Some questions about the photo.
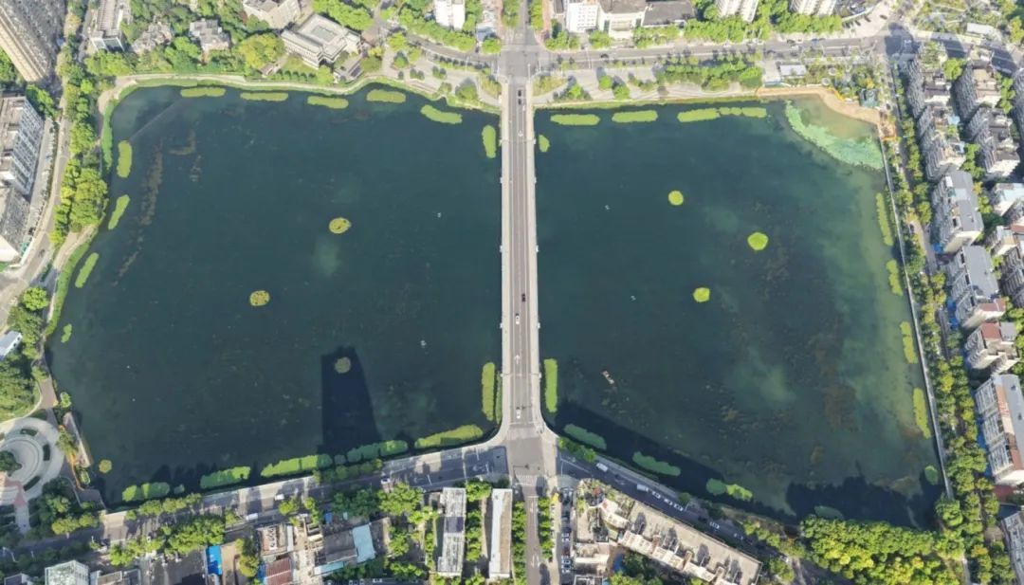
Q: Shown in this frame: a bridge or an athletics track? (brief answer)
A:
bridge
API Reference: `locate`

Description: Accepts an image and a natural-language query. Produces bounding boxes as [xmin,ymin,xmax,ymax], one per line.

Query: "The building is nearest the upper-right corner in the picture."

[963,23,994,39]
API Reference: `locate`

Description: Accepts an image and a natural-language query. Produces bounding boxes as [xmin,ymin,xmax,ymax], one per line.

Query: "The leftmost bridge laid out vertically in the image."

[500,84,542,412]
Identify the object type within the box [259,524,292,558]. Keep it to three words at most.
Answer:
house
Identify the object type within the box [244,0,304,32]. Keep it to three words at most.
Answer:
building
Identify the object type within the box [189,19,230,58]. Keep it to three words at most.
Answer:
house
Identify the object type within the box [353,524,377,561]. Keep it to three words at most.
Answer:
shed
